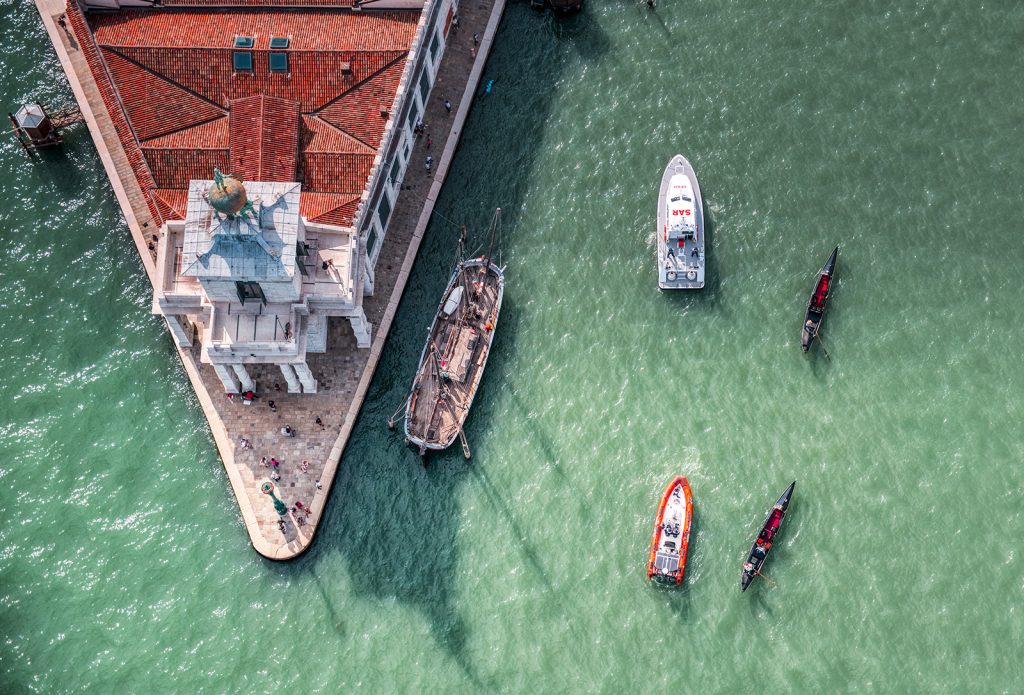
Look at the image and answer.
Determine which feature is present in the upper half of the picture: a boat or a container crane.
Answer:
boat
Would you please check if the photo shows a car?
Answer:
No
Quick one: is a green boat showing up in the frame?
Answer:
No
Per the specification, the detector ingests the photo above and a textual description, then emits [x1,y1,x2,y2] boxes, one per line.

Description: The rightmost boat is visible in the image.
[802,240,838,353]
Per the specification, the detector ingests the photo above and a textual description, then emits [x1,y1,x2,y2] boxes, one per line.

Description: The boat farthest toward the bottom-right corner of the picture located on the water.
[742,478,796,592]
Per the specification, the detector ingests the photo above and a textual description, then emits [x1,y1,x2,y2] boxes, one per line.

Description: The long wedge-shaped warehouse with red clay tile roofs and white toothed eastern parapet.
[66,0,461,259]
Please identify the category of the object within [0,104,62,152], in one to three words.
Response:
shed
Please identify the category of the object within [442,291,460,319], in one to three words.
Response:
boat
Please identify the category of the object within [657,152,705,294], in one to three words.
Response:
boat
